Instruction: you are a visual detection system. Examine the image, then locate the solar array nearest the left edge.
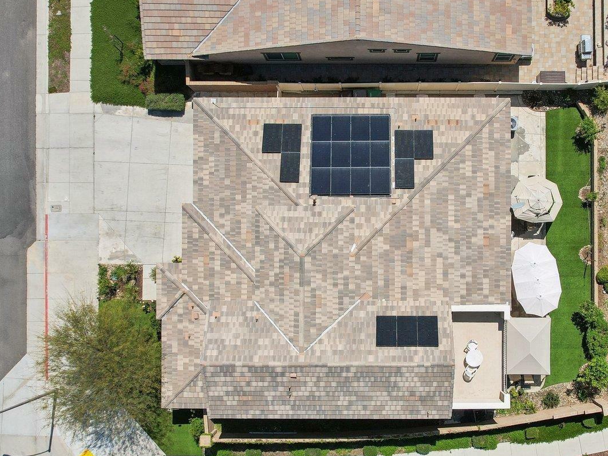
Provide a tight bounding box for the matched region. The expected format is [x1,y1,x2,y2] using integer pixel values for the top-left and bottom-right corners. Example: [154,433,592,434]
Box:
[261,123,301,181]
